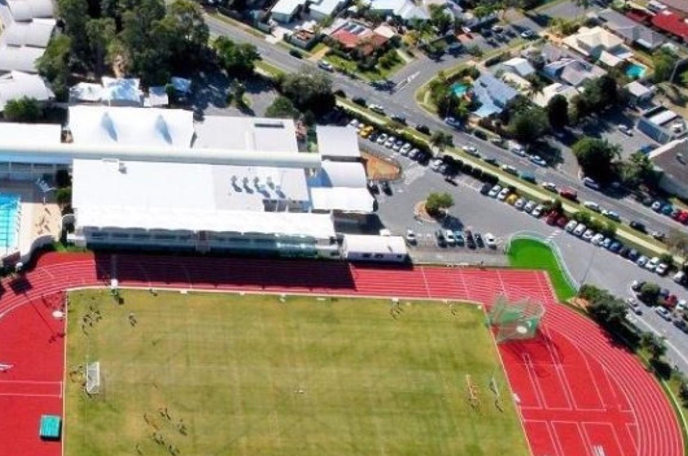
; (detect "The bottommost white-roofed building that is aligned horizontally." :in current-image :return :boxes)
[341,236,407,267]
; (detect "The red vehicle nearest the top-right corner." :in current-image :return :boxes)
[559,187,578,200]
